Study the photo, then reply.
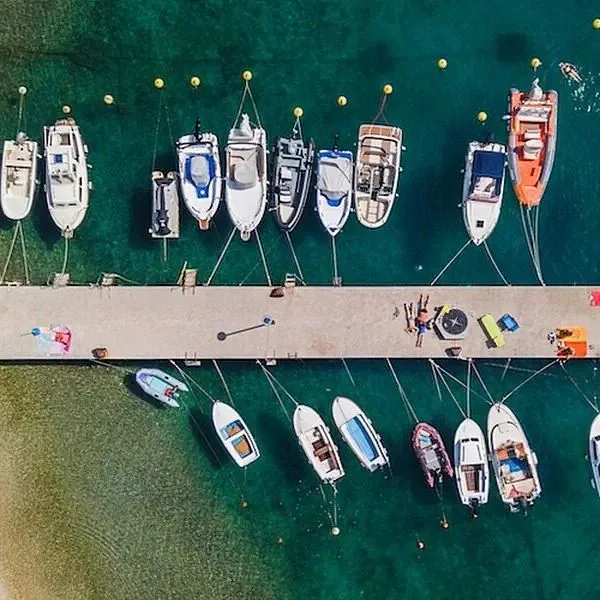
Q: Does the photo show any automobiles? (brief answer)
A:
No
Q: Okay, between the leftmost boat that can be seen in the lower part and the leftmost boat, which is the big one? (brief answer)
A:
the leftmost boat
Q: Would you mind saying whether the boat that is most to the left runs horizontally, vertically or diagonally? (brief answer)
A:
vertically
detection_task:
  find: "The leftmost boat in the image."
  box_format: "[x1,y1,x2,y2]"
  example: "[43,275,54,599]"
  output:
[1,131,41,221]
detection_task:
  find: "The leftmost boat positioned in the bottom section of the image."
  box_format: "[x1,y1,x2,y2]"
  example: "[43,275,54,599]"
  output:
[137,371,189,406]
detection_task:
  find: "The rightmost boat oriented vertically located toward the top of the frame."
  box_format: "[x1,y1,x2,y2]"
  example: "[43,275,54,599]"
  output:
[502,79,556,207]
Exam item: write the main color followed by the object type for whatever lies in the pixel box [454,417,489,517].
white boat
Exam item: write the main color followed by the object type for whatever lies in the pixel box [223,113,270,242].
white boat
